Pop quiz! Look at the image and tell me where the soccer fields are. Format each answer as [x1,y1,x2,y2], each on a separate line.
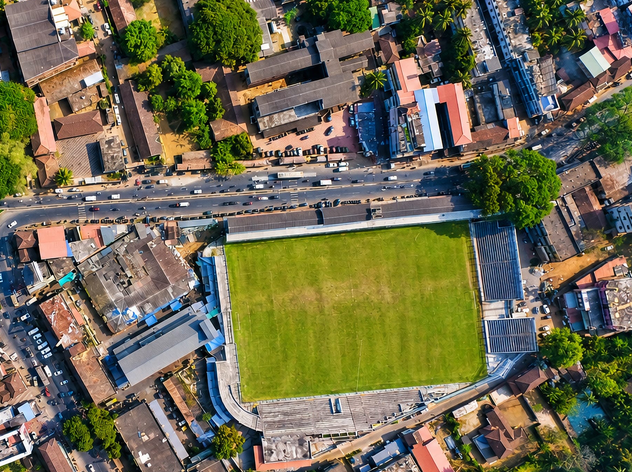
[224,219,489,403]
